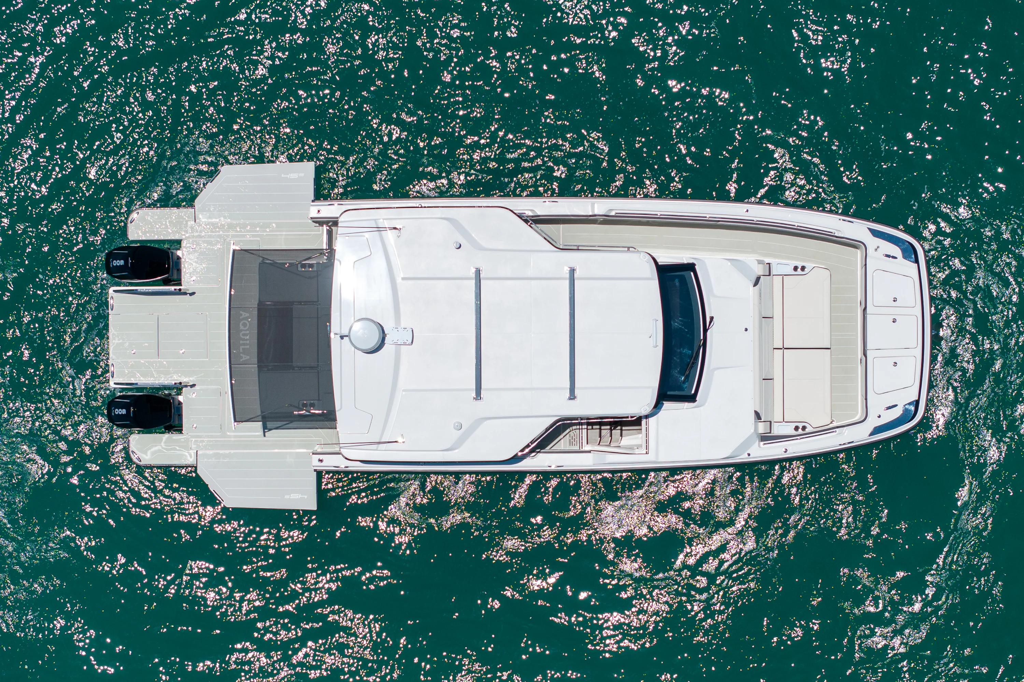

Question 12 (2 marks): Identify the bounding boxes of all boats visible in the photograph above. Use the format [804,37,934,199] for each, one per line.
[103,162,934,510]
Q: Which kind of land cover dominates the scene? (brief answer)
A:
water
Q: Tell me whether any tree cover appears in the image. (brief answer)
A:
No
